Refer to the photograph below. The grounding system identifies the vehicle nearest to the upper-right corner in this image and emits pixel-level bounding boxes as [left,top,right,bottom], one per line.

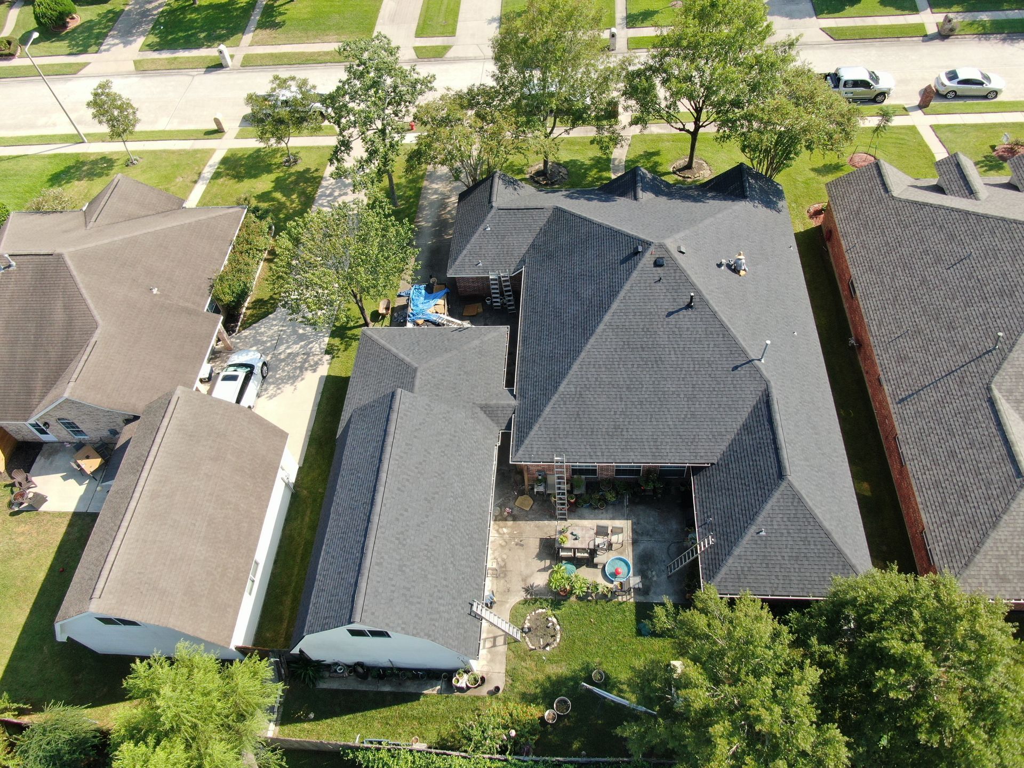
[930,71,1007,102]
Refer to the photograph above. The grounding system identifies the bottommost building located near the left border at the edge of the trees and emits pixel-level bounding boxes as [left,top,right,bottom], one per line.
[50,386,300,660]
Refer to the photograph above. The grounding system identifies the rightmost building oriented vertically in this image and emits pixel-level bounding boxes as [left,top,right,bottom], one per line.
[820,151,1024,606]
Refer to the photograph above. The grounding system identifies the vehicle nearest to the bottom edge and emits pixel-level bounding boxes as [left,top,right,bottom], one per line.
[210,352,264,411]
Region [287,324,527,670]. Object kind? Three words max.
building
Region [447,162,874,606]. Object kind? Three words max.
house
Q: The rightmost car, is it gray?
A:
Yes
